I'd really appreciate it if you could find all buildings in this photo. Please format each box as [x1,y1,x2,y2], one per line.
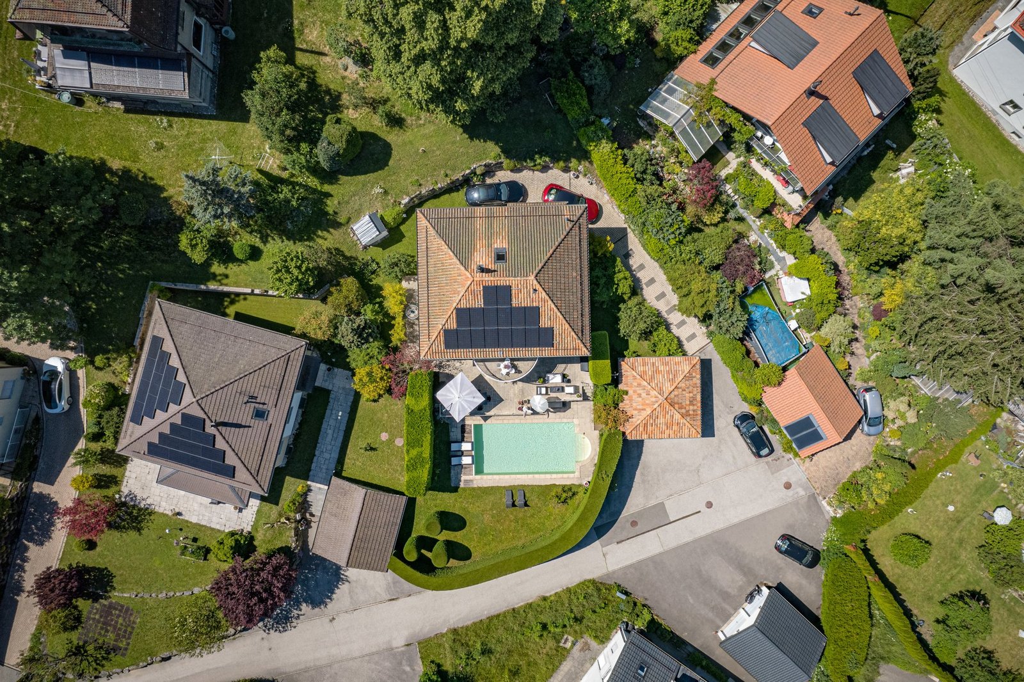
[6,0,228,106]
[632,0,913,228]
[756,346,864,458]
[711,577,828,682]
[415,201,592,383]
[573,617,719,682]
[311,477,408,572]
[618,356,704,441]
[949,0,1024,162]
[115,299,325,510]
[352,213,390,248]
[0,365,25,473]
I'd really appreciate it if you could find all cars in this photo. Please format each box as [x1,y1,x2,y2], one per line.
[730,410,777,462]
[542,184,600,221]
[465,178,527,206]
[42,358,72,412]
[770,532,821,569]
[855,384,887,437]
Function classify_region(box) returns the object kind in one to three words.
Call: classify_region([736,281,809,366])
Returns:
swimming pool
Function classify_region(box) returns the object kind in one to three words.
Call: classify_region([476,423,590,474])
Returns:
swimming pool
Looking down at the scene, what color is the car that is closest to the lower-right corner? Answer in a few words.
black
